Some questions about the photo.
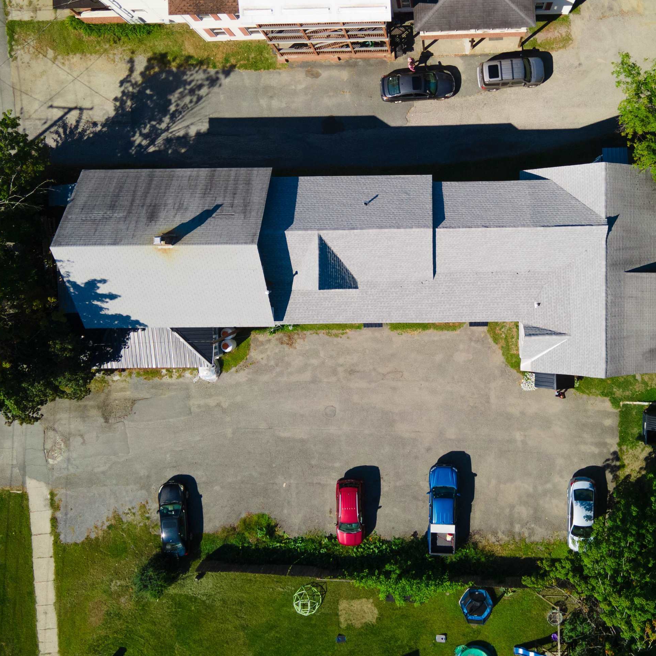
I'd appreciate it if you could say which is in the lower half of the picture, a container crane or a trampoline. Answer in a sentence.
What appears in the lower half of the picture is a trampoline.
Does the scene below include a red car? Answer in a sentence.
Yes, there is a red car in the image.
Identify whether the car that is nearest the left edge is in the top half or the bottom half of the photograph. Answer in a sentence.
The car that is nearest the left edge sits in the bottom half of the picture.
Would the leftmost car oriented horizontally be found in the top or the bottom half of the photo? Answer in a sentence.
The leftmost car oriented horizontally sits in the top half of the picture.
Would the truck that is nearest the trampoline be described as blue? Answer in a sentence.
Yes, the truck that is nearest the trampoline appears blue.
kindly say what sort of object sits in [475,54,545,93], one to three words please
car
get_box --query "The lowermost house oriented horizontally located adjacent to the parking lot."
[52,162,656,379]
